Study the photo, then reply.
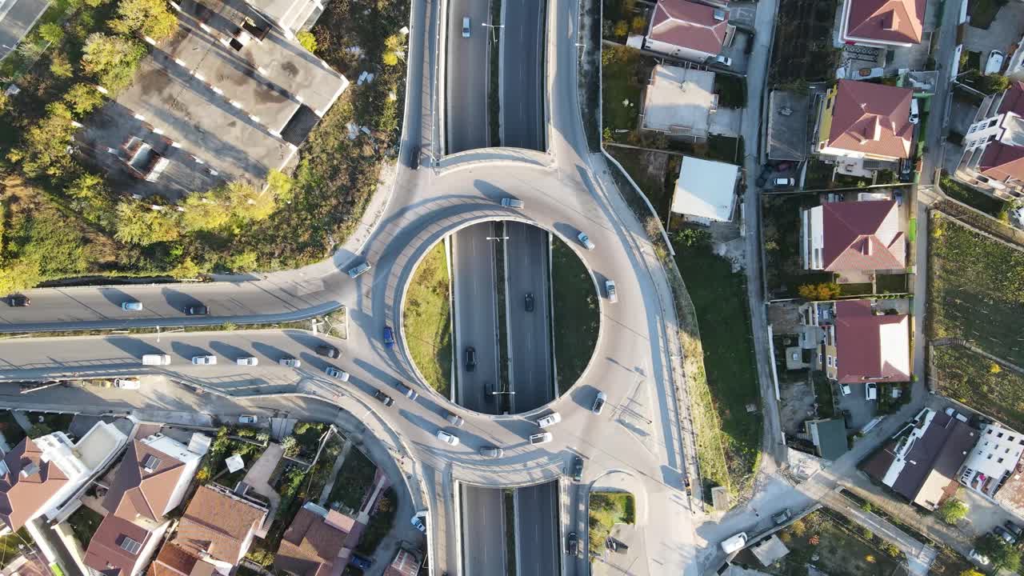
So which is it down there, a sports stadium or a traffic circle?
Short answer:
traffic circle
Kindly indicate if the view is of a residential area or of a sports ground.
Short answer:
residential area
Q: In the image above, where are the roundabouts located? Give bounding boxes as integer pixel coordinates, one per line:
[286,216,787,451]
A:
[349,166,653,468]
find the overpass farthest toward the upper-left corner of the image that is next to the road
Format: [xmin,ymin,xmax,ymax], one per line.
[438,149,562,179]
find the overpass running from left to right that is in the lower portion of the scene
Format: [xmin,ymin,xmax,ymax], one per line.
[445,454,568,486]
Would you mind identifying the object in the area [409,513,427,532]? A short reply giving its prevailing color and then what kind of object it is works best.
blue car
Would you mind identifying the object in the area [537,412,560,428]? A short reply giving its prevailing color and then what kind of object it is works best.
white car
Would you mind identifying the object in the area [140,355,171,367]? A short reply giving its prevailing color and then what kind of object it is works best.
white vehicle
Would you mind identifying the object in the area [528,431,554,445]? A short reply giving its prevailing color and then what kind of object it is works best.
white vehicle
